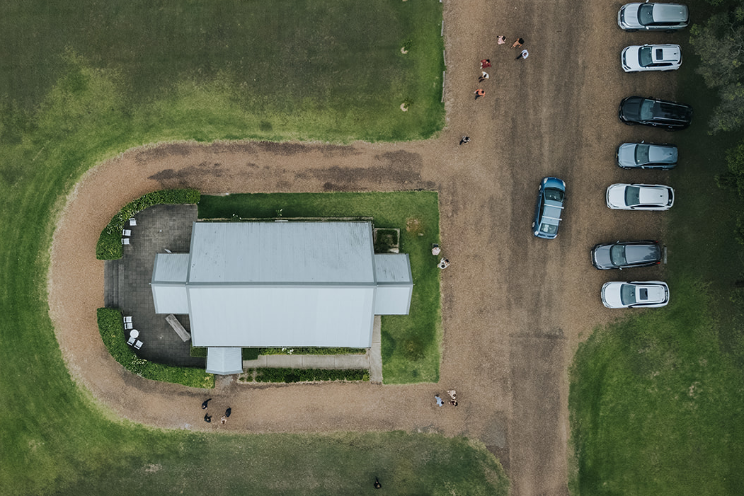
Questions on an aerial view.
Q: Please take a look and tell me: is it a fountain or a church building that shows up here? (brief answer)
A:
church building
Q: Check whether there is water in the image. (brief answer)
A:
No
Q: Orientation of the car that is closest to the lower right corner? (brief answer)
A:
horizontally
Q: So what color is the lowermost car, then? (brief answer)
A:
white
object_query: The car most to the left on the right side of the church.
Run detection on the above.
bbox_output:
[531,180,568,239]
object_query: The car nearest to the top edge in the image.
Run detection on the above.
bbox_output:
[616,0,689,36]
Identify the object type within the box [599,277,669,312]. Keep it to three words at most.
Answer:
car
